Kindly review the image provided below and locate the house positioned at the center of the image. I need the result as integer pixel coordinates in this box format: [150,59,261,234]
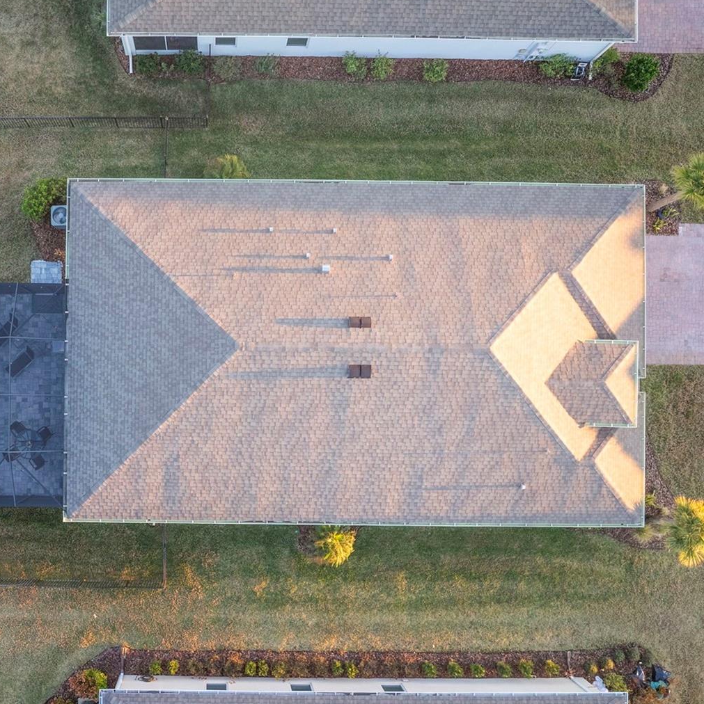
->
[63,178,646,528]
